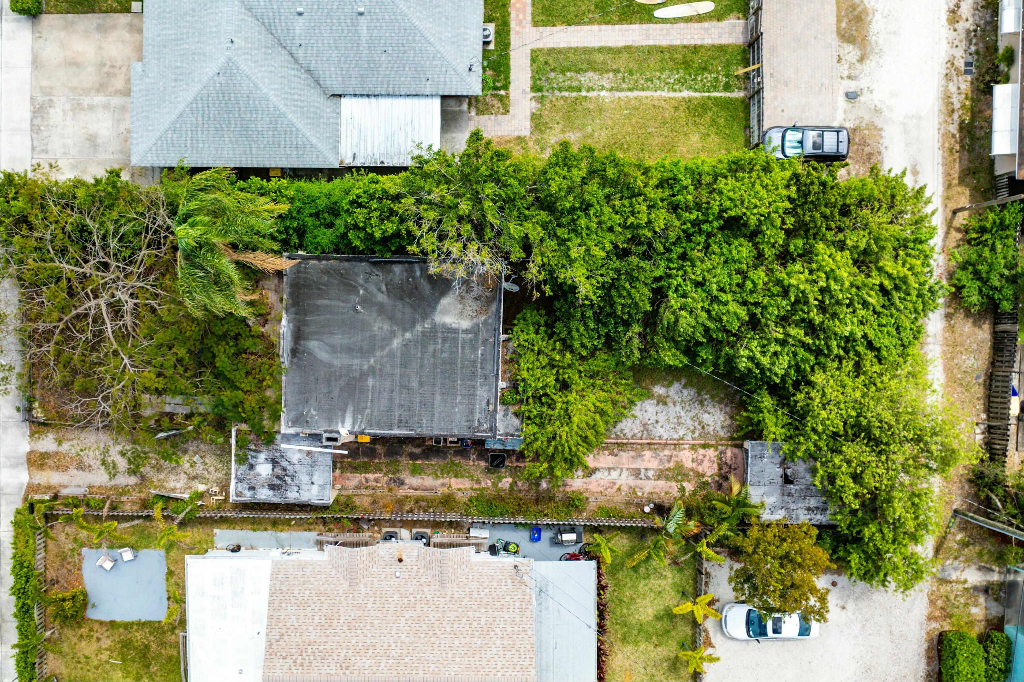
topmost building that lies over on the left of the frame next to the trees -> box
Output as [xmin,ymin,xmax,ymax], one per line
[127,0,485,170]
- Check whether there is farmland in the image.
No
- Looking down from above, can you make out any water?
No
